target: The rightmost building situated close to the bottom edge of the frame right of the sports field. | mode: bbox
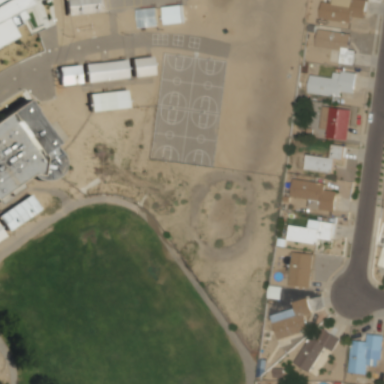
[348,335,384,376]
